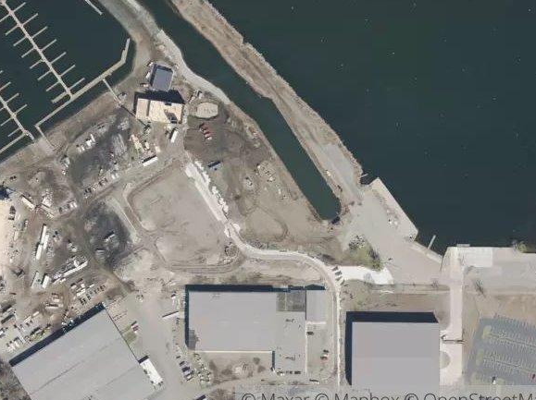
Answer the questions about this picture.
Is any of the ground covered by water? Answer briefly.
Yes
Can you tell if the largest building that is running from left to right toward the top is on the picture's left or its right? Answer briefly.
left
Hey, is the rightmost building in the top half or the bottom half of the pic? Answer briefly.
bottom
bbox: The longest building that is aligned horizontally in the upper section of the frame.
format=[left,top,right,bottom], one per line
[137,99,184,124]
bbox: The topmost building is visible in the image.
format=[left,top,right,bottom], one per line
[153,68,174,91]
